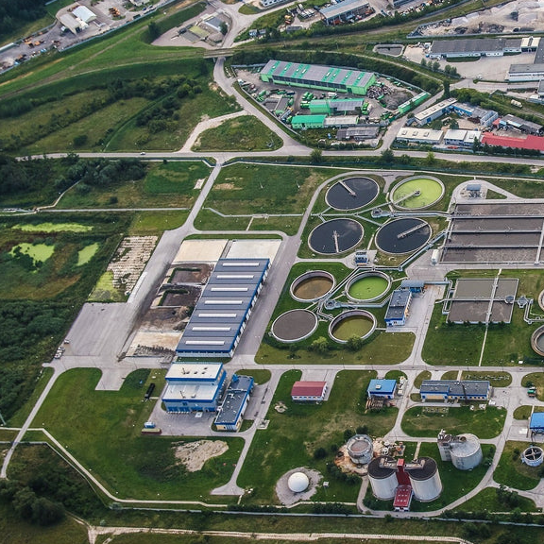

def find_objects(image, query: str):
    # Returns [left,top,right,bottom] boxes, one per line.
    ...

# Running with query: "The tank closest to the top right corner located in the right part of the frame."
[390,176,446,211]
